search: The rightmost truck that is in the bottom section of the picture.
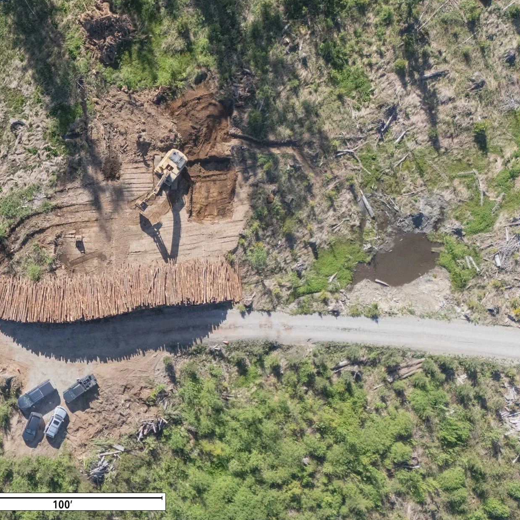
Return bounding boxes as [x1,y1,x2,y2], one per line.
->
[62,372,100,403]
